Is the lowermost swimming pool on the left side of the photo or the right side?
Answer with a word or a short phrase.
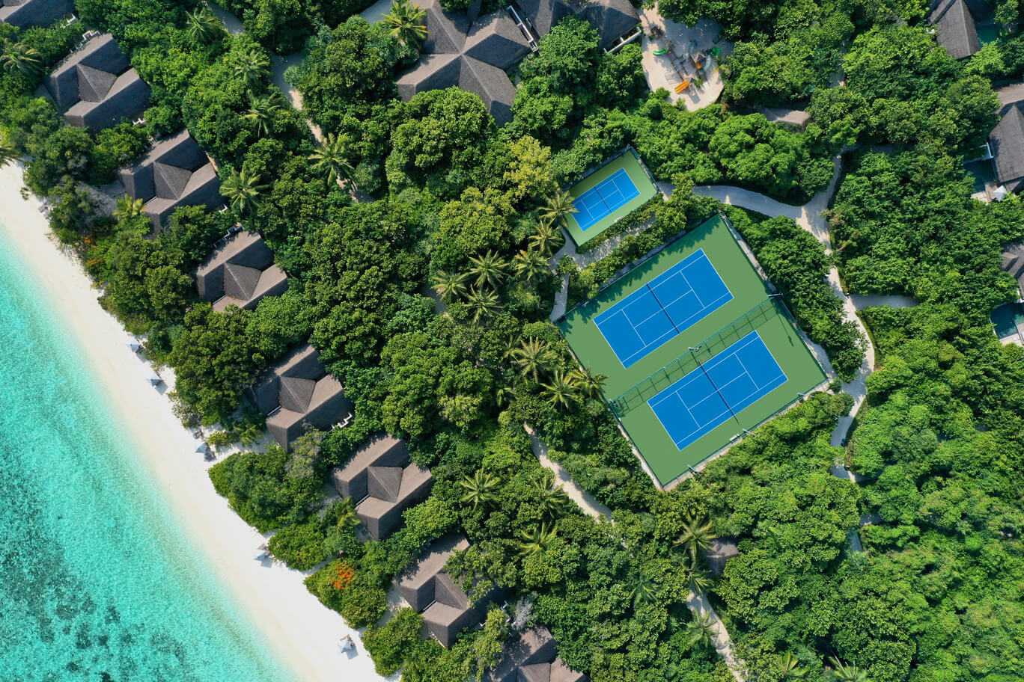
right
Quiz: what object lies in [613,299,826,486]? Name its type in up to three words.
tennis court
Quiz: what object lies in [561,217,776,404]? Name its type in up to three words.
tennis court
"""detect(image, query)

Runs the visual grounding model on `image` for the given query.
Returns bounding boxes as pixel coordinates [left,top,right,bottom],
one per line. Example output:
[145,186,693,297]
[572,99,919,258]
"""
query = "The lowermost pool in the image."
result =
[995,300,1024,339]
